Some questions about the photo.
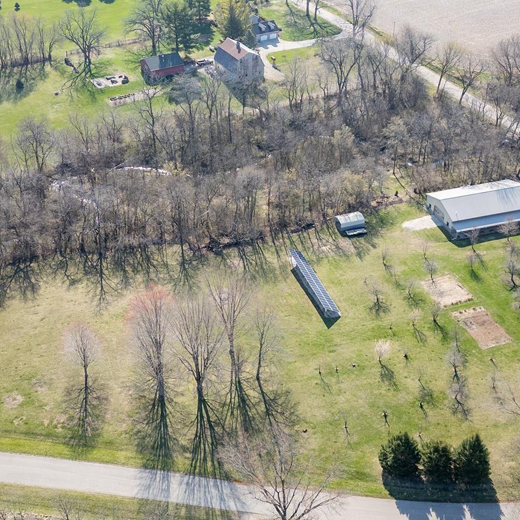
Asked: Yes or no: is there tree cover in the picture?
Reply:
Yes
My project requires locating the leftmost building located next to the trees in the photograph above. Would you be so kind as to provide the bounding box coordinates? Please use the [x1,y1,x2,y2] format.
[142,54,186,80]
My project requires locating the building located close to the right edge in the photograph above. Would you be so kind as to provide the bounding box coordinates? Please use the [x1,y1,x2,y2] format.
[424,180,520,246]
